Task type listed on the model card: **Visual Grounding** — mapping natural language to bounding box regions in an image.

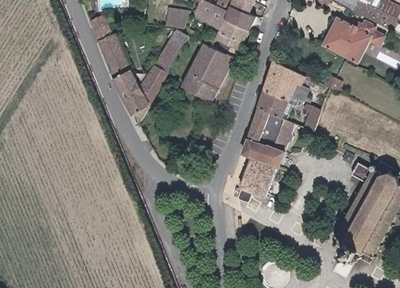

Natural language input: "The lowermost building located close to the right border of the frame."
[332,163,400,278]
